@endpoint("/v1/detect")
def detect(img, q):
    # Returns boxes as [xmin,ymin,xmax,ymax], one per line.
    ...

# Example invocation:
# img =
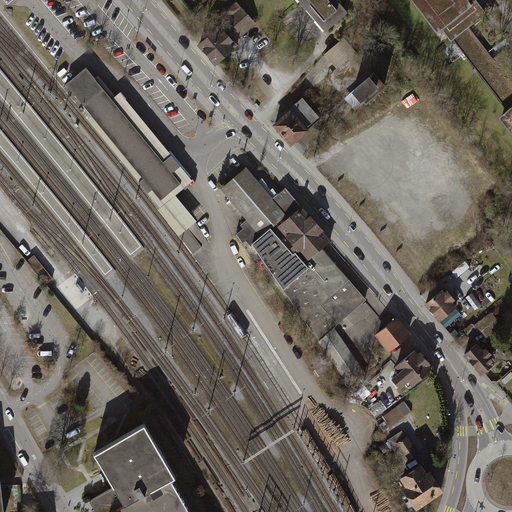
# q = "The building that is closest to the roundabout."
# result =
[400,464,444,511]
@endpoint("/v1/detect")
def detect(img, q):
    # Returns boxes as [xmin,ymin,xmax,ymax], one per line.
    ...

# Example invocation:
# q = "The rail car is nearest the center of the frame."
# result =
[228,307,248,336]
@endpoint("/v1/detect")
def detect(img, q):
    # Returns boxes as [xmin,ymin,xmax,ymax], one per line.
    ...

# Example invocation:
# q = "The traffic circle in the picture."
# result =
[466,440,512,512]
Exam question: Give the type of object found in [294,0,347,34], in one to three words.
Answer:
building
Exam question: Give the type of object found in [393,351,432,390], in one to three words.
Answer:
house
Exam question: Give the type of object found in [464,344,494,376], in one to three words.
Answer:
house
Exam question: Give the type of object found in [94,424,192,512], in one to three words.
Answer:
building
